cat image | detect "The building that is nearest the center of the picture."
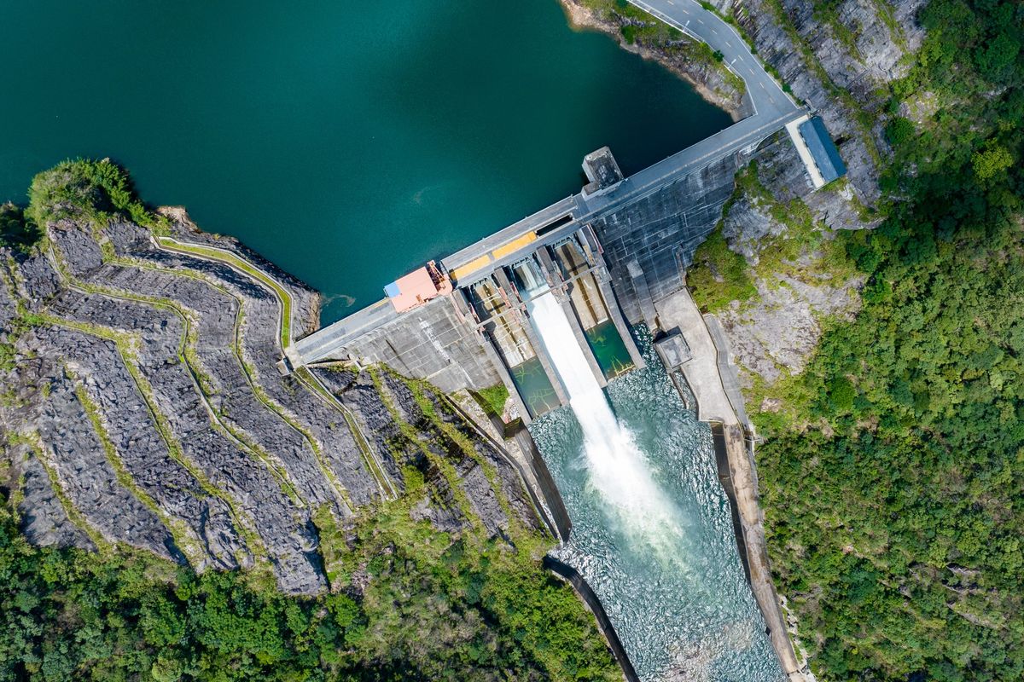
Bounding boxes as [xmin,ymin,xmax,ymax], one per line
[653,332,691,369]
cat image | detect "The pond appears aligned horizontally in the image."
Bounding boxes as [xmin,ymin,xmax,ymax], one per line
[0,0,737,334]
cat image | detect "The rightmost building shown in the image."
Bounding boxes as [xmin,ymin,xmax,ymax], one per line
[785,114,845,189]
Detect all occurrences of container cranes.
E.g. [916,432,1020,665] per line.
[386,261,456,316]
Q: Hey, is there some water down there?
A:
Yes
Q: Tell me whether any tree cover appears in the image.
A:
Yes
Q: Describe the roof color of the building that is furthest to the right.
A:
blue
